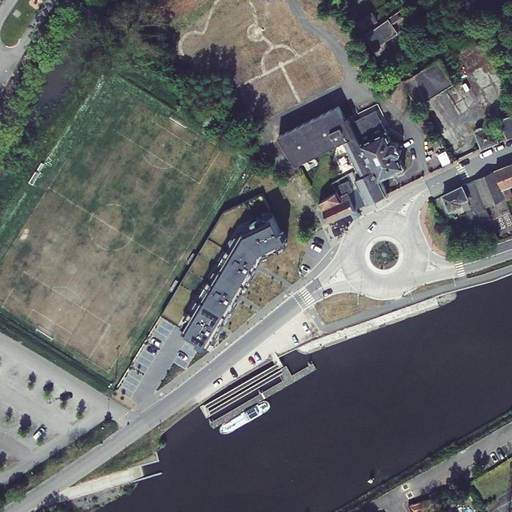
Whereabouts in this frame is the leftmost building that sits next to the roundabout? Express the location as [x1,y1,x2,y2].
[180,216,288,350]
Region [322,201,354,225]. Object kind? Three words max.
house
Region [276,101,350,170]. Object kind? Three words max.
building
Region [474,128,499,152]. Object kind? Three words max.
house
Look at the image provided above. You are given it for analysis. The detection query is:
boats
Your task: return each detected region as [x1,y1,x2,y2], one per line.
[220,401,270,435]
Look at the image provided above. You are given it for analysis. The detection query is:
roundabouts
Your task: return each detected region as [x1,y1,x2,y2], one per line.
[316,182,458,302]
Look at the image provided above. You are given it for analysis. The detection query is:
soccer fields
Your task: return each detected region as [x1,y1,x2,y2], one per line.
[0,76,249,380]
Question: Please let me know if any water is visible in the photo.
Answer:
Yes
